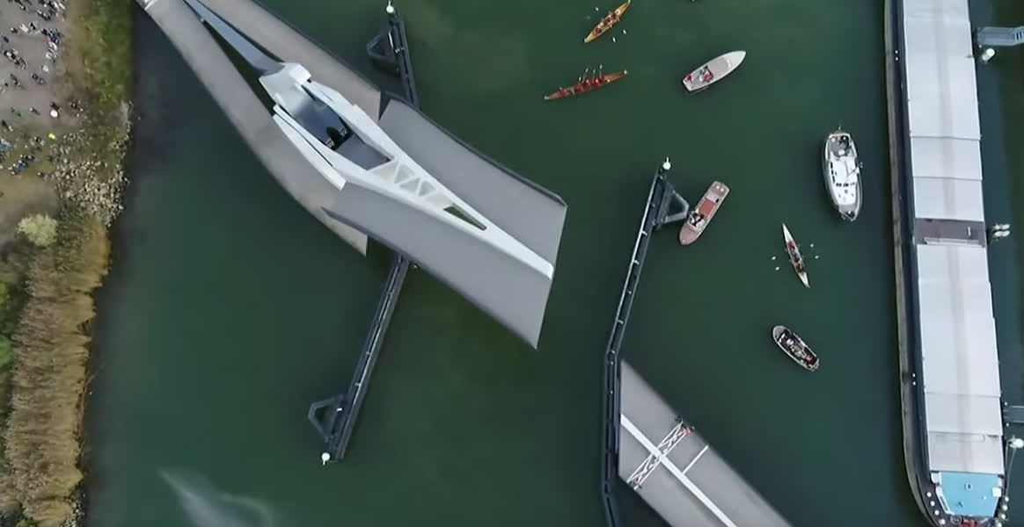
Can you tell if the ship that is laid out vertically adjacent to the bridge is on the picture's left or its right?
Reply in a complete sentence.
It is on the right.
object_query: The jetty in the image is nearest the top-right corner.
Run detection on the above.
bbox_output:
[974,24,1024,54]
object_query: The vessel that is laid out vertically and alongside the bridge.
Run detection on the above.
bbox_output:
[884,0,1008,527]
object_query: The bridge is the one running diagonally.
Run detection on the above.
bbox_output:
[136,0,792,527]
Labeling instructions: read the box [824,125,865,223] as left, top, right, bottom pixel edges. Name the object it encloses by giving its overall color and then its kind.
white boat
